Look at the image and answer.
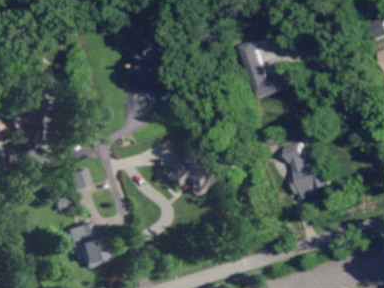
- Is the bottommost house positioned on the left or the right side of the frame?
left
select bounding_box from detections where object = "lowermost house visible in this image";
[68,223,113,270]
